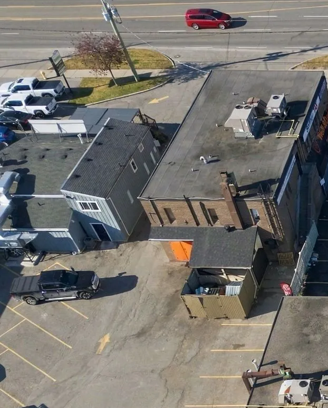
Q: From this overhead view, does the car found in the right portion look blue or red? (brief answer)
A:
red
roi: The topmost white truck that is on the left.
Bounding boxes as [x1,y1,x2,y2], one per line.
[2,72,62,96]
